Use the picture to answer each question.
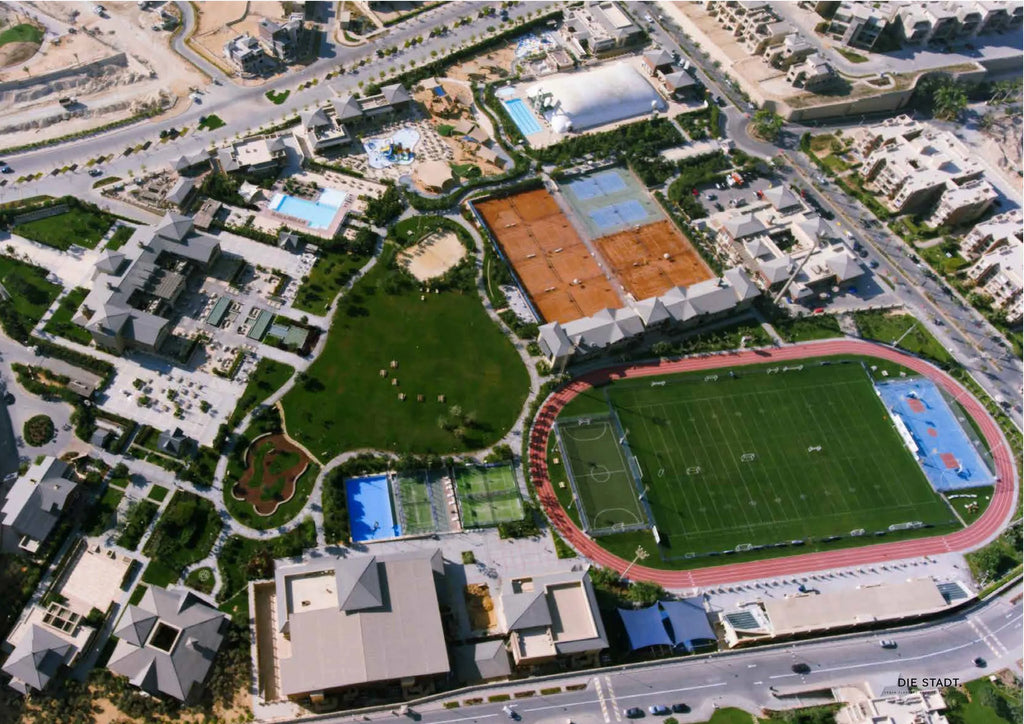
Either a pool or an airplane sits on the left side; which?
pool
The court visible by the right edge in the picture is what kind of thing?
basketball court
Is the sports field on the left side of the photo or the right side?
right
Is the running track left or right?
right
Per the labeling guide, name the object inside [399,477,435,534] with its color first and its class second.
green sports court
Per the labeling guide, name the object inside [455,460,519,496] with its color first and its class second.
green sports court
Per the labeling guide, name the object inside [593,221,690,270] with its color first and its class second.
orange tennis court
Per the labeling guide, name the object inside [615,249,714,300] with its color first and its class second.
orange tennis court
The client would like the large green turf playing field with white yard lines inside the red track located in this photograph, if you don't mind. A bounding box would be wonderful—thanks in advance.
[611,360,958,561]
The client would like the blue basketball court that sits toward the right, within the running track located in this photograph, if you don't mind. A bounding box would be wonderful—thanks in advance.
[877,377,994,490]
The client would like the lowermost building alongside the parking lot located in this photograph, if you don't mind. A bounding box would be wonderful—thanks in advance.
[537,265,762,366]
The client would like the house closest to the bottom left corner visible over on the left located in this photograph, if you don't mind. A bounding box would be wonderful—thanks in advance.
[2,601,97,693]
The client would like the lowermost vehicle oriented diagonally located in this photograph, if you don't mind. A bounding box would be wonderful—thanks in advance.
[503,705,519,720]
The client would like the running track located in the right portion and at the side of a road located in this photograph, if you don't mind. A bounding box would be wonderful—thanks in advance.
[530,341,1015,587]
